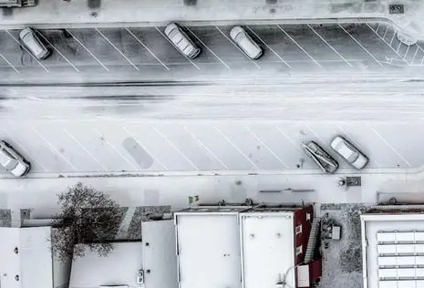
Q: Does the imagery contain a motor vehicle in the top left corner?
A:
Yes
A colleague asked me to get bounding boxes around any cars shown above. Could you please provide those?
[20,25,53,61]
[164,20,203,60]
[230,22,265,60]
[0,138,32,176]
[308,141,340,175]
[331,135,368,170]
